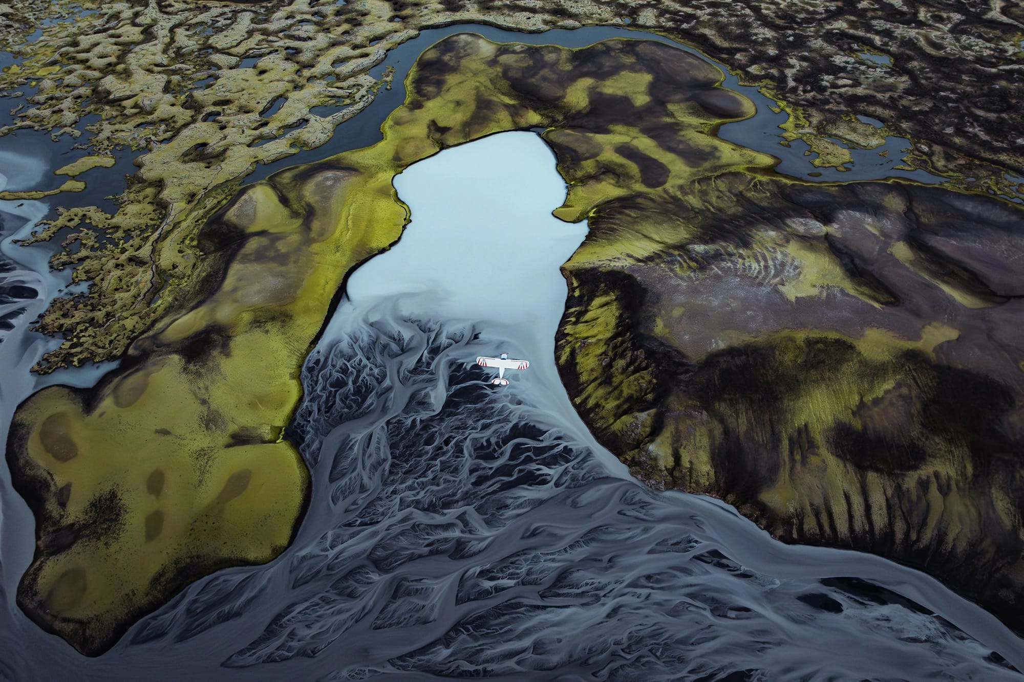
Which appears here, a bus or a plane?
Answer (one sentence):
This aerial view contains a plane.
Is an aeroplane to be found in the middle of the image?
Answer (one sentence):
Yes, there is an aeroplane in the middle of the image.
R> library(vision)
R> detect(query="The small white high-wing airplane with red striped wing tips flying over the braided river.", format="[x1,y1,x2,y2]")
[476,353,529,387]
